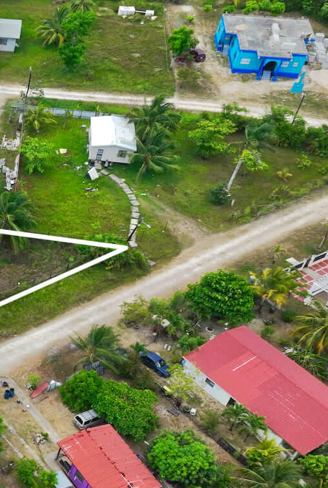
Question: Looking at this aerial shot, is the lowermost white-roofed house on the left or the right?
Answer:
left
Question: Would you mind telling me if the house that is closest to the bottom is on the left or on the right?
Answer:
left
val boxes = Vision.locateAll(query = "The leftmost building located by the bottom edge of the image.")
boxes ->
[53,424,162,488]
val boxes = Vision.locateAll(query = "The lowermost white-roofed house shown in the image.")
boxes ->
[86,115,136,168]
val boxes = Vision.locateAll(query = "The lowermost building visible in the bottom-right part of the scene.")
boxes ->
[182,326,328,466]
